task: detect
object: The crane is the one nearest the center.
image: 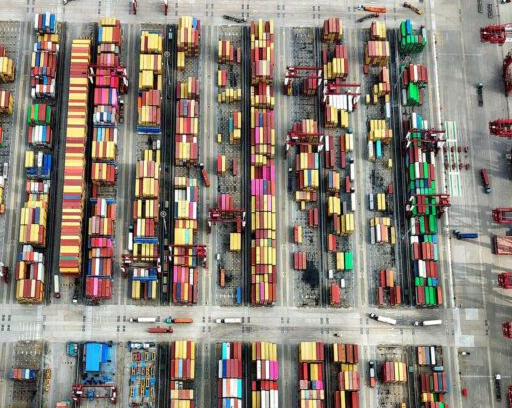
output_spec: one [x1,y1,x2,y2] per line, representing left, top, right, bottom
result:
[206,213,247,239]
